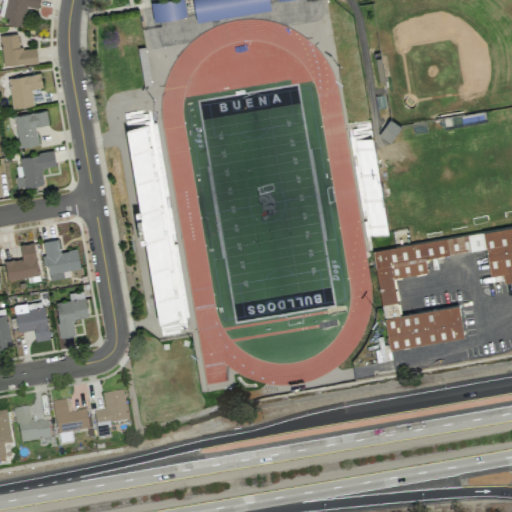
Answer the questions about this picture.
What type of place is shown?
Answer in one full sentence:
The picture captures a sports ground.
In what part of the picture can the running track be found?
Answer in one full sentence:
The running track appears toward the center of the photo.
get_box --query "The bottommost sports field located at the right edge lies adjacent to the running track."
[382,107,512,245]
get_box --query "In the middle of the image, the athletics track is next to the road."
[162,20,372,384]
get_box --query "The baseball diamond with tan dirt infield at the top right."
[388,0,512,123]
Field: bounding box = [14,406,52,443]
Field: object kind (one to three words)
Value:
house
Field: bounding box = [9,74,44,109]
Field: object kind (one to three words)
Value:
house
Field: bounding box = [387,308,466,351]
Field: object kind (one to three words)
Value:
building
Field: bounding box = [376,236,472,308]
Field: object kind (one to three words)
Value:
building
